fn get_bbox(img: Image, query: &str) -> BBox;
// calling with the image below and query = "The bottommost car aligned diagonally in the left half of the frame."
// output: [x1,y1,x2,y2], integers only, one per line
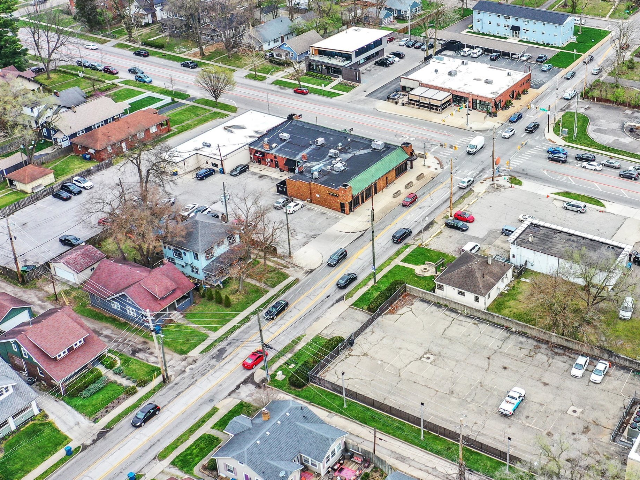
[130,402,161,429]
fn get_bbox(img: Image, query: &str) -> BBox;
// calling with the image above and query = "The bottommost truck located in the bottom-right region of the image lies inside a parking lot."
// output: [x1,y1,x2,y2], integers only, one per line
[498,387,525,418]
